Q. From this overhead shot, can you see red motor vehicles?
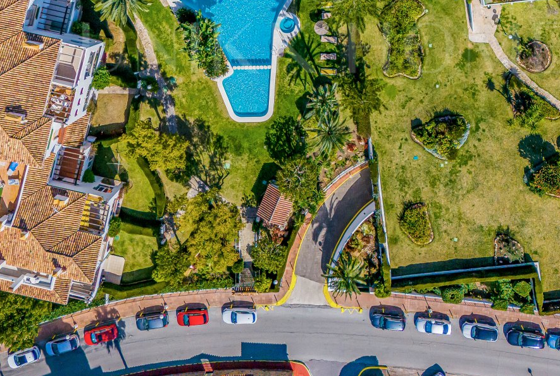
Yes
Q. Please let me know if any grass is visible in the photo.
Yes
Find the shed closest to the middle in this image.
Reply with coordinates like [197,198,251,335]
[256,183,294,228]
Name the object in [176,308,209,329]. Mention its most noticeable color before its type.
red car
